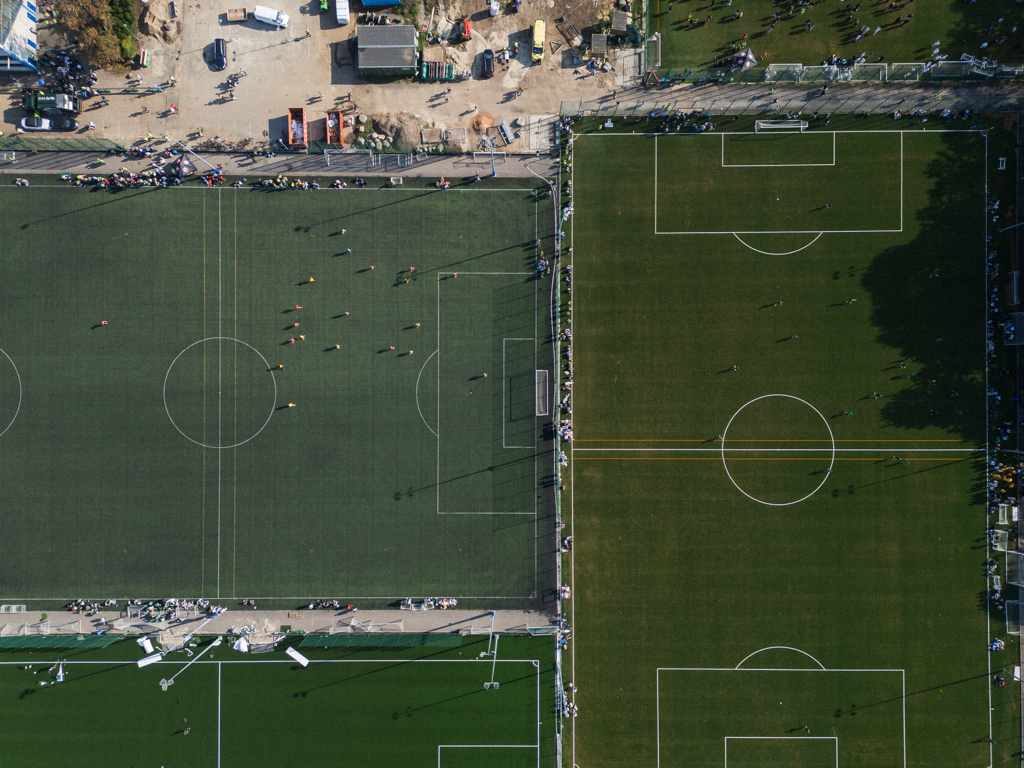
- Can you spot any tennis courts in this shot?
No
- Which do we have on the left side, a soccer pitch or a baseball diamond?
soccer pitch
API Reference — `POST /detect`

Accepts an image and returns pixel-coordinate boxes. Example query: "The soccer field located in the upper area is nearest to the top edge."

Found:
[646,0,1024,83]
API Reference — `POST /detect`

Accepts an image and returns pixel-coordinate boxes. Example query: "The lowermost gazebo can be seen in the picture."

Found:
[169,151,201,183]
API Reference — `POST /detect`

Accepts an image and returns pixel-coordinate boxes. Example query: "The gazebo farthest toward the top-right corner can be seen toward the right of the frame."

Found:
[730,47,758,78]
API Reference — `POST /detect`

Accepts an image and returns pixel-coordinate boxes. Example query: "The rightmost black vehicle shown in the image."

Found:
[482,49,496,78]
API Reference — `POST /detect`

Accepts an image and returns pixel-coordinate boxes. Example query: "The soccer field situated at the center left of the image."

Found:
[0,174,556,610]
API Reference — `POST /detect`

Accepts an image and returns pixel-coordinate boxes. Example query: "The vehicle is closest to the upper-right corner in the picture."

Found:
[530,19,546,63]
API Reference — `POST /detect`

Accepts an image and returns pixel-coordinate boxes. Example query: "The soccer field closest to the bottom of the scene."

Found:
[0,635,556,768]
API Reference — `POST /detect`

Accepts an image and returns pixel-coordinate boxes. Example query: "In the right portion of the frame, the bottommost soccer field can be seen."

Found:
[539,112,1021,768]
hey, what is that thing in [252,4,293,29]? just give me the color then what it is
white vehicle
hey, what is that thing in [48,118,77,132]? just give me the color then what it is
black car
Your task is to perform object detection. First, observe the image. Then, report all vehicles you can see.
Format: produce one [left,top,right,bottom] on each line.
[459,5,474,40]
[482,49,496,78]
[19,117,48,132]
[22,91,82,115]
[214,39,229,71]
[337,0,353,24]
[48,118,77,132]
[252,4,293,29]
[319,0,332,16]
[530,19,546,63]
